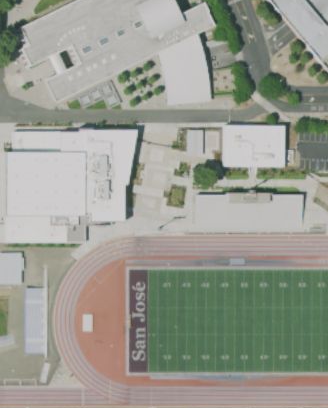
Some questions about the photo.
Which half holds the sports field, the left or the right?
right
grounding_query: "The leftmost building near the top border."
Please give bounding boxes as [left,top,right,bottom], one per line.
[22,0,216,105]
